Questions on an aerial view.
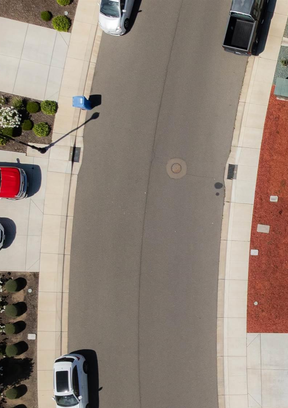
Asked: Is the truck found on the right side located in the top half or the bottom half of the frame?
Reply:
top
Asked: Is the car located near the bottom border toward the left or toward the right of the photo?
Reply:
left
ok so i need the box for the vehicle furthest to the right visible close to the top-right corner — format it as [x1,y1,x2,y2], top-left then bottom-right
[223,0,267,61]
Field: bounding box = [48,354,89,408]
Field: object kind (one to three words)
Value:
car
